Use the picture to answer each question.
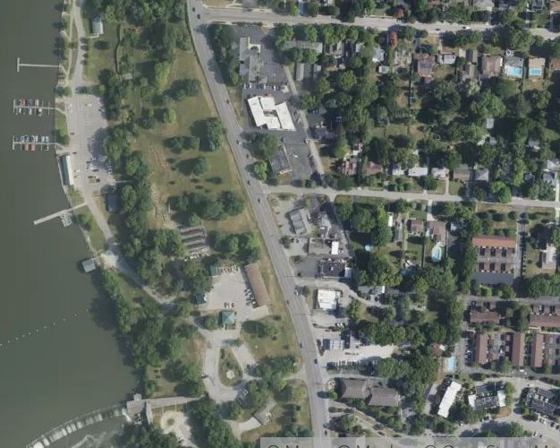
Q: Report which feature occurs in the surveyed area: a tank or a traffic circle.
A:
traffic circle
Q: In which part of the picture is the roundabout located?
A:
bottom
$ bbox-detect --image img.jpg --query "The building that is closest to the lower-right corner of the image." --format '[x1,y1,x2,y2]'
[523,386,560,420]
